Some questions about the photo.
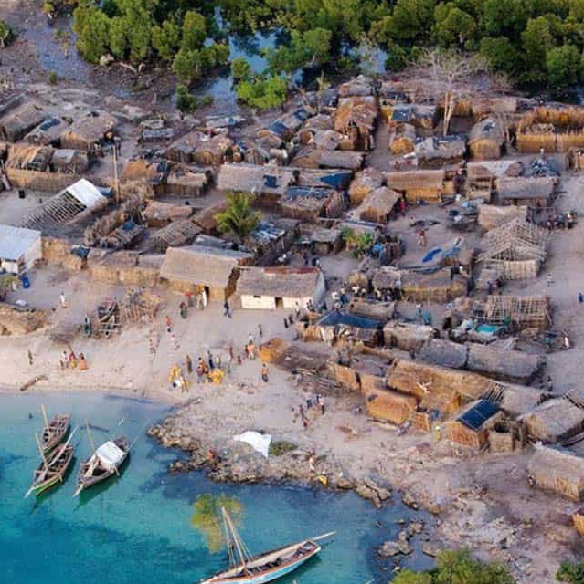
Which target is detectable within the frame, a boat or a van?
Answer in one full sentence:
This aerial view contains a boat.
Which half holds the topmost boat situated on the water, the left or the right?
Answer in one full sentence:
You can find the topmost boat situated on the water on the left side of the picture.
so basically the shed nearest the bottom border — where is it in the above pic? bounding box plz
[525,424,584,507]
